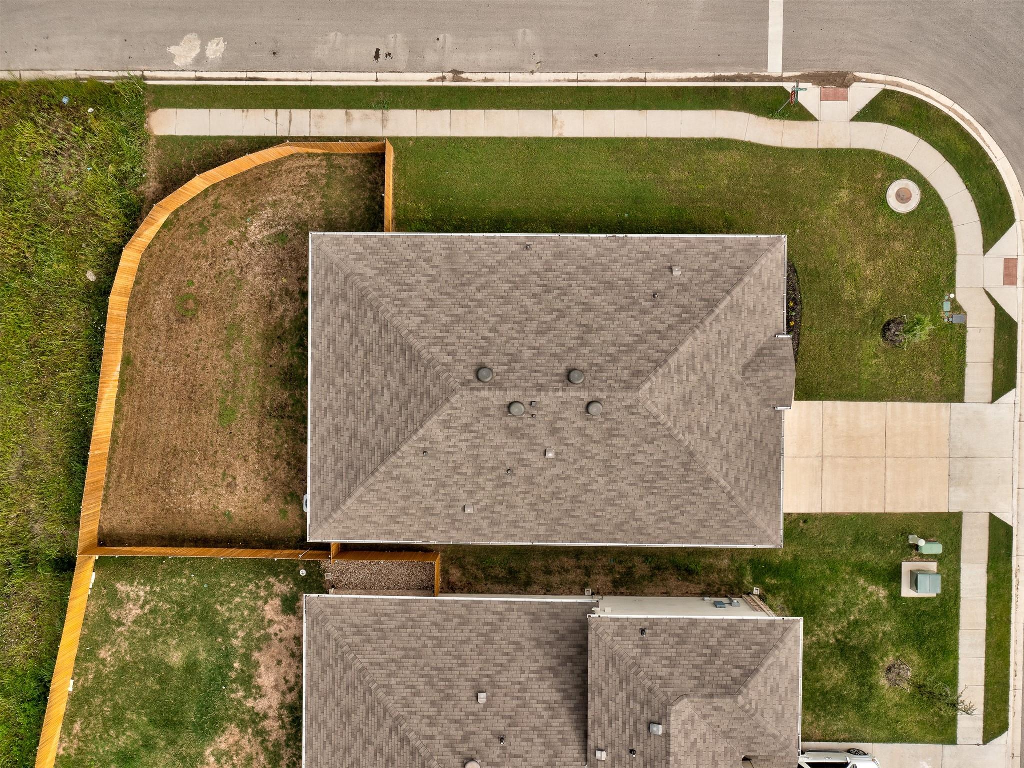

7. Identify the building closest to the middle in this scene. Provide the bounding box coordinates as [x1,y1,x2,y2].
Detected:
[308,233,797,546]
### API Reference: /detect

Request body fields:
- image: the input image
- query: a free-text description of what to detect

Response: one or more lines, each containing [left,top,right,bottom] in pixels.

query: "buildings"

[302,584,803,768]
[308,233,797,546]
